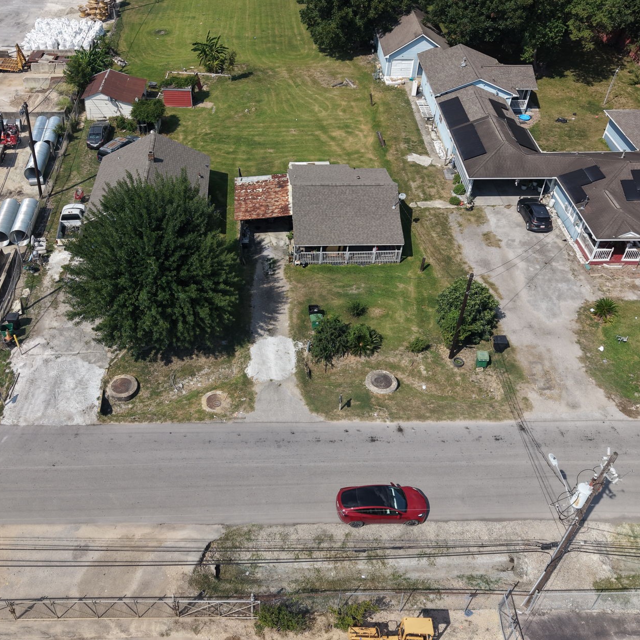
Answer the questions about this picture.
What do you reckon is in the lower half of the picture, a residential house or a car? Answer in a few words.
car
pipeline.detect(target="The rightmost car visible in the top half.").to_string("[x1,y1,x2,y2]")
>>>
[514,198,554,232]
